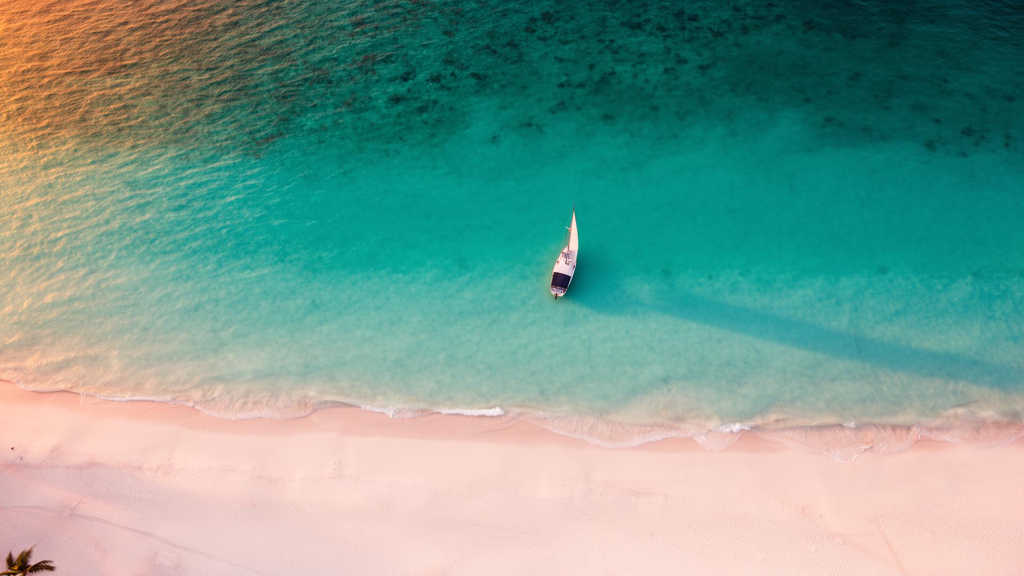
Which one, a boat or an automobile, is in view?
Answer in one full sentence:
There is a boat in the scene.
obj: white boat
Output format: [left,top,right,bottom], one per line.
[551,204,577,302]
